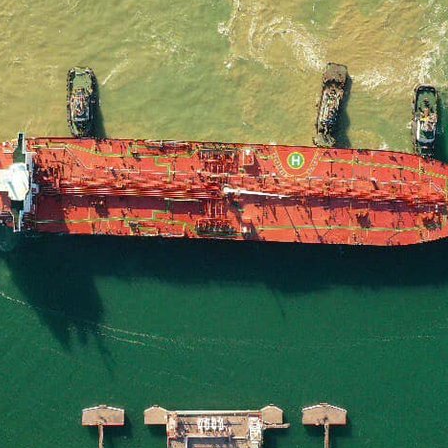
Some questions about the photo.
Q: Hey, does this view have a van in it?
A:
No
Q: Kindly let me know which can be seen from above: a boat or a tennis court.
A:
boat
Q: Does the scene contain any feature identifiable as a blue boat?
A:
No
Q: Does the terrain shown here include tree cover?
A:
No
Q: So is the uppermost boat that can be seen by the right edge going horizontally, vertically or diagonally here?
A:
vertically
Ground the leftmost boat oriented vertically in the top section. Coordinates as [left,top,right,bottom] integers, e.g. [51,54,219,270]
[66,66,96,138]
